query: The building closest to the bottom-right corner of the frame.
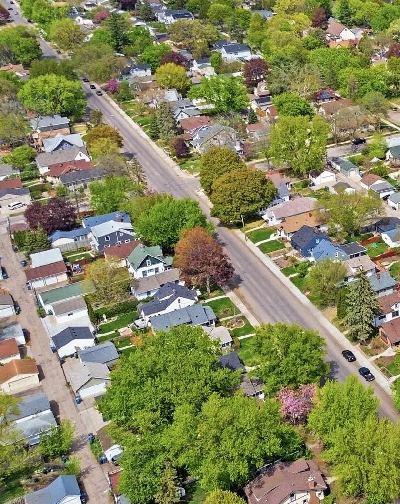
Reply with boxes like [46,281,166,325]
[244,455,334,504]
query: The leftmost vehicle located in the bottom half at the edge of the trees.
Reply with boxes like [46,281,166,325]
[342,350,357,363]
